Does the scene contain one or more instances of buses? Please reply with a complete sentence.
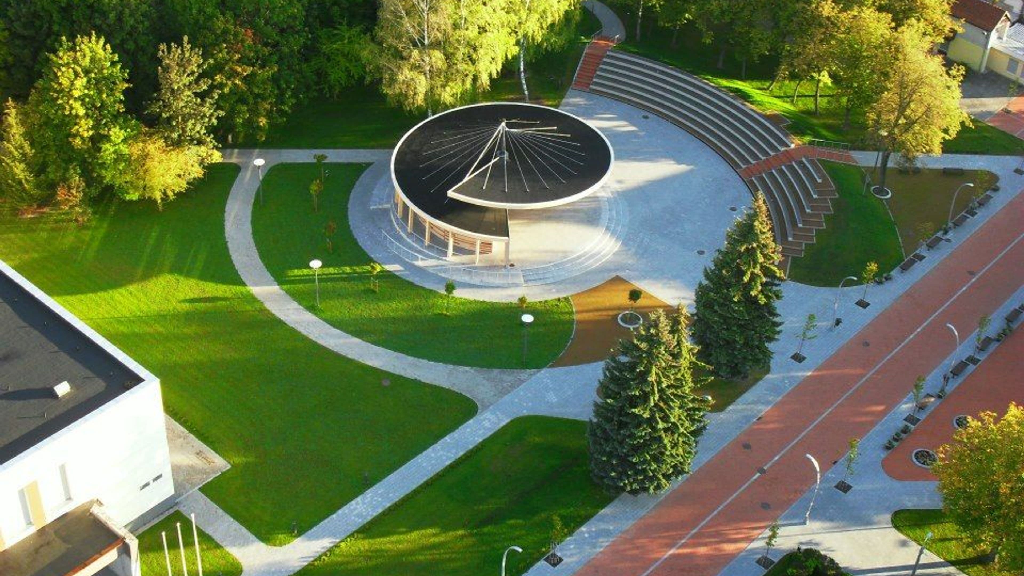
No, there appears to be no bus in this shot.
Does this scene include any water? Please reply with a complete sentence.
No, the picture contains no water.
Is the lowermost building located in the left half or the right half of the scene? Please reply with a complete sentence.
It is on the left.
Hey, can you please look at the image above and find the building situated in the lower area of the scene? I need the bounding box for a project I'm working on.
[0,262,179,559]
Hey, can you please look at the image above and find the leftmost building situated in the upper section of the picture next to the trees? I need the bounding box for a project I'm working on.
[390,102,615,267]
